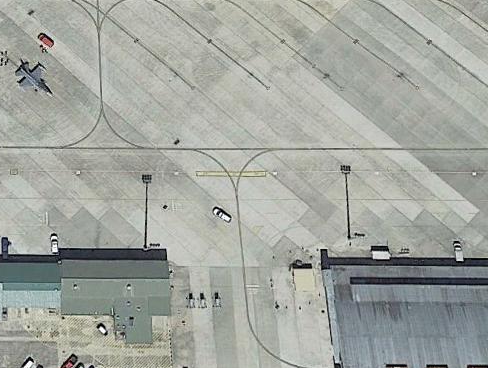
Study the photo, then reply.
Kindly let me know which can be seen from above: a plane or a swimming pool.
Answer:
plane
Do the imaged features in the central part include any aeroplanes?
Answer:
No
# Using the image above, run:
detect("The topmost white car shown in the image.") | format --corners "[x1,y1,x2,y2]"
[212,208,231,223]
